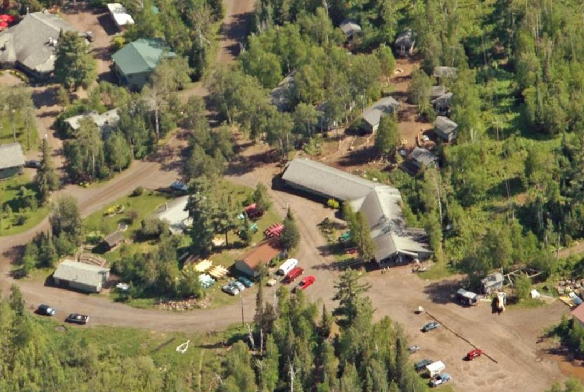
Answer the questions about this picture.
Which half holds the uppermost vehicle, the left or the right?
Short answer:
left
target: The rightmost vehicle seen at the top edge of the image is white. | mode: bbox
[110,4,132,28]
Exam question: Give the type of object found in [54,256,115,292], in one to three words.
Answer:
house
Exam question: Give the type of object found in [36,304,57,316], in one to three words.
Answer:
vehicle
